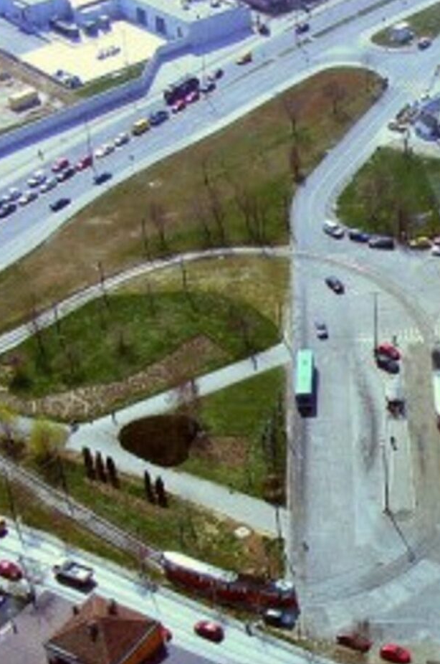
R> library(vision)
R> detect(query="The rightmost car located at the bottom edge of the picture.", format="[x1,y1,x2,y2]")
[375,641,414,664]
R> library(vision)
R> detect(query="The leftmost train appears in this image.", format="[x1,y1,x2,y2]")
[154,548,304,621]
